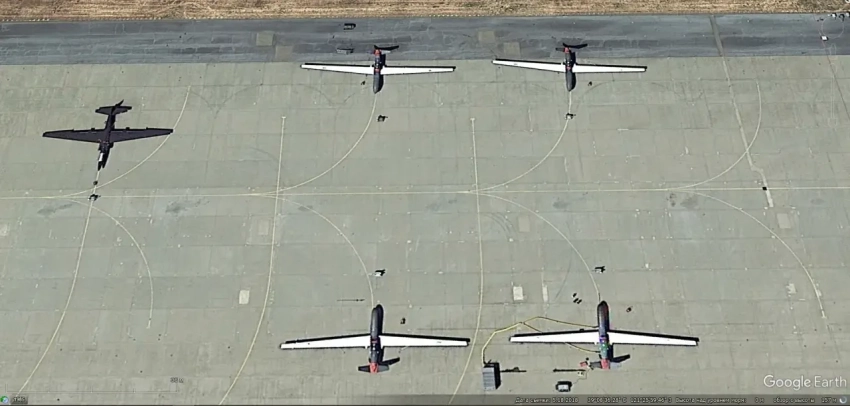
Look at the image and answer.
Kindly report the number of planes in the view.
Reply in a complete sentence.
The number of planes here is 5.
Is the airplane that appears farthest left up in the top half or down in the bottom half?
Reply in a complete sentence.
It is in the top half that the airplane that appears farthest left appears.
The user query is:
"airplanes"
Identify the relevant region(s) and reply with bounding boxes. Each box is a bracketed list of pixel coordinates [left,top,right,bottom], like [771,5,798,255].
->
[492,43,647,92]
[44,98,172,174]
[281,308,471,374]
[510,304,700,370]
[300,46,456,95]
